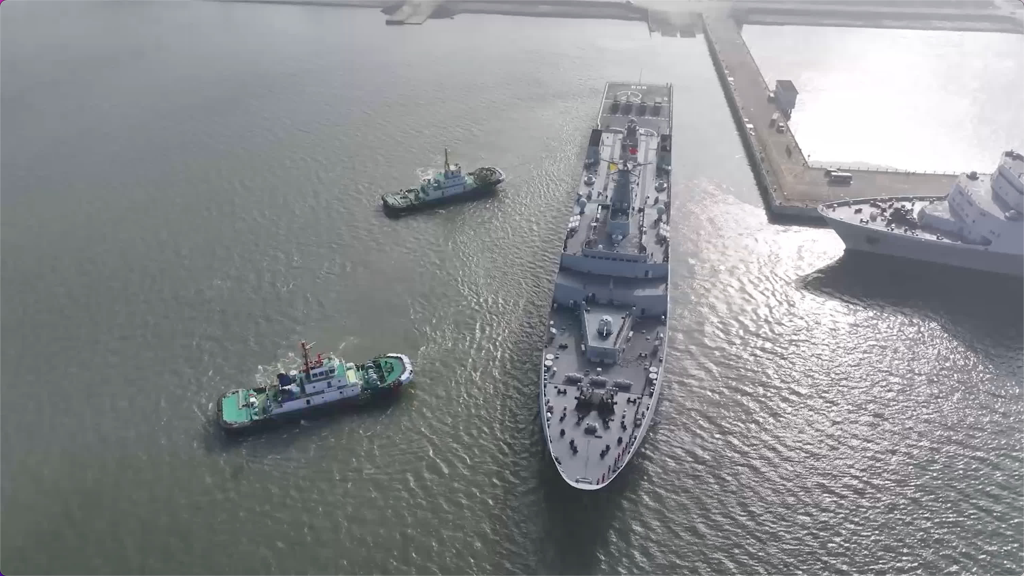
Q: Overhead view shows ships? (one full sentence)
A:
Yes, looking at the shot, I can spot a ship.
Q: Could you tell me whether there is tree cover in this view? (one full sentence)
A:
No, there is no tree cover in the image.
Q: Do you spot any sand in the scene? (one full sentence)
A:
No, there is no sand in the image.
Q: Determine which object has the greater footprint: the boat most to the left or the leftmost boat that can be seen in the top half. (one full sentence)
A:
Of the two, the boat most to the left is bigger, while the leftmost boat that can be seen in the top half is smaller.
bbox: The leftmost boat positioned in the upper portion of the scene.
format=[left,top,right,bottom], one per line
[382,141,509,214]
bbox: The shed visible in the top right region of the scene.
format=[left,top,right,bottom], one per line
[772,81,799,124]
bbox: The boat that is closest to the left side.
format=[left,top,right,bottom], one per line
[214,335,414,431]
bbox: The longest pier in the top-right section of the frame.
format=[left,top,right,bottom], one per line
[696,1,1000,227]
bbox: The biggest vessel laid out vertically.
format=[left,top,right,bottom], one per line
[540,65,673,491]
